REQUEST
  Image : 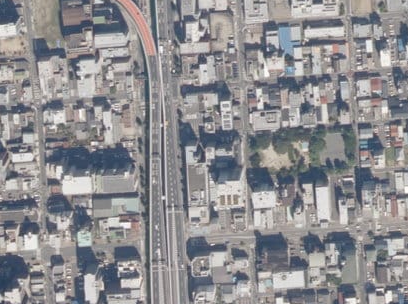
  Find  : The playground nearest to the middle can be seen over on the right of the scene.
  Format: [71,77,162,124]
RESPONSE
[261,144,292,168]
